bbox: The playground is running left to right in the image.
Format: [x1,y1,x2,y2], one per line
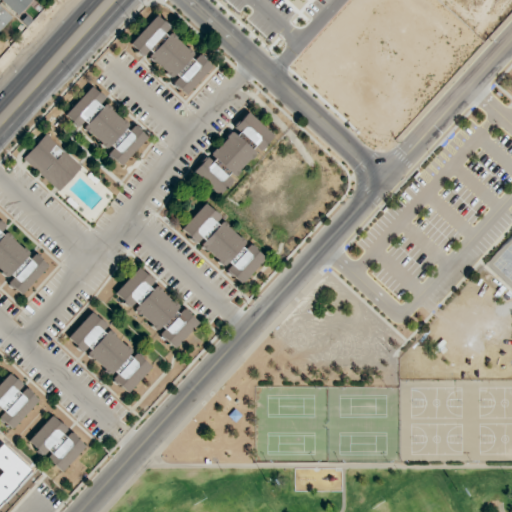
[294,468,344,492]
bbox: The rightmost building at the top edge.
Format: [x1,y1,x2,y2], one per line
[132,14,214,96]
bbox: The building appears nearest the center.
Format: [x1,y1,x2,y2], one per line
[182,202,266,284]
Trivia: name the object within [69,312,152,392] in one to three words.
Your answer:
building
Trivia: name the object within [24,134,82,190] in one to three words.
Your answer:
building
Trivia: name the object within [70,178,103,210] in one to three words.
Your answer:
swimming pool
